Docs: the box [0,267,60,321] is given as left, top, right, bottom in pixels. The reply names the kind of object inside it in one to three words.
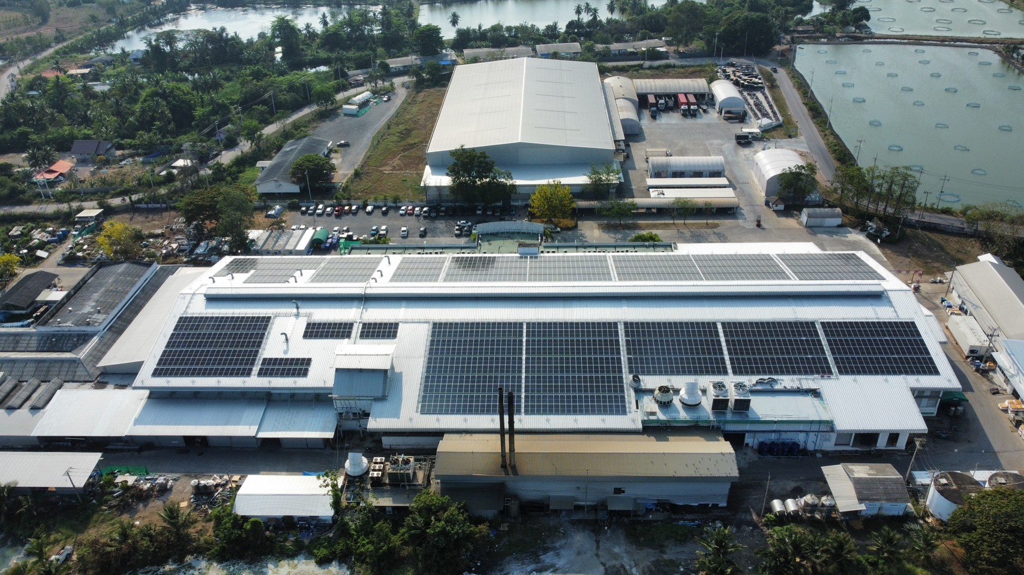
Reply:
shed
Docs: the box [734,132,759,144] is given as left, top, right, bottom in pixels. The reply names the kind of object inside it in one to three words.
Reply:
vehicle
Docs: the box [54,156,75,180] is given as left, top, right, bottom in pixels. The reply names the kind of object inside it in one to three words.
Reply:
house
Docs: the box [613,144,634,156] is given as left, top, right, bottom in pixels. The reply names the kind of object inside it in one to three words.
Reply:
vehicle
